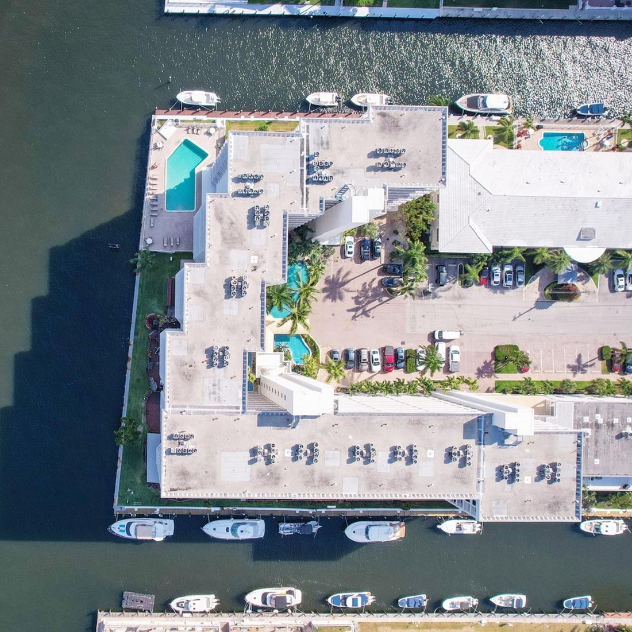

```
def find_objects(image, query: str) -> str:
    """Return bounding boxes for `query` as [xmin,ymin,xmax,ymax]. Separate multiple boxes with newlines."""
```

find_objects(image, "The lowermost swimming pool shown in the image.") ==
[272,333,311,364]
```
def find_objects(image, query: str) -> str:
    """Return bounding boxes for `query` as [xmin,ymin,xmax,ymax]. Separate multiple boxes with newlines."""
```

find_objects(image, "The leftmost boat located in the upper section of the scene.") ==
[176,86,221,106]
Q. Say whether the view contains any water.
Yes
